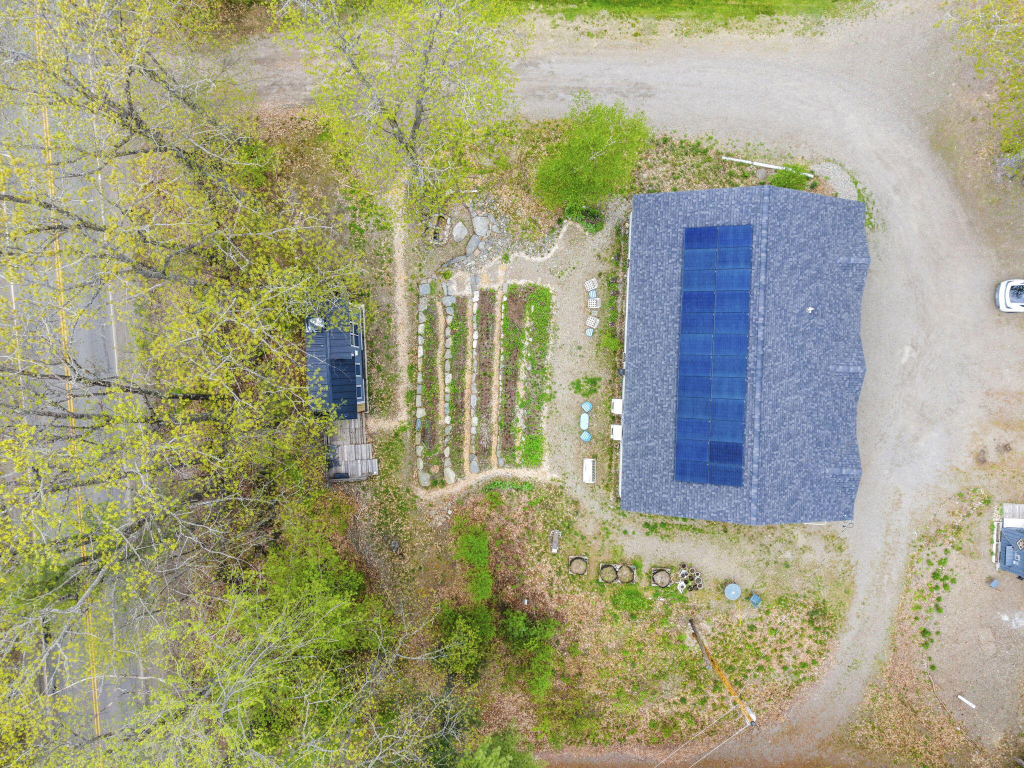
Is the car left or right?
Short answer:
right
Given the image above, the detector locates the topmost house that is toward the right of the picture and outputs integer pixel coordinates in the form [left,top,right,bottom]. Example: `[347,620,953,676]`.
[615,185,871,526]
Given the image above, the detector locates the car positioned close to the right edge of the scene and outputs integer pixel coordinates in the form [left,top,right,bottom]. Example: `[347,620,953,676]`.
[991,278,1024,315]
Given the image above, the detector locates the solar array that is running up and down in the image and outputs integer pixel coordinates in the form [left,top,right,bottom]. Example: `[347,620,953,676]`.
[675,225,751,488]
